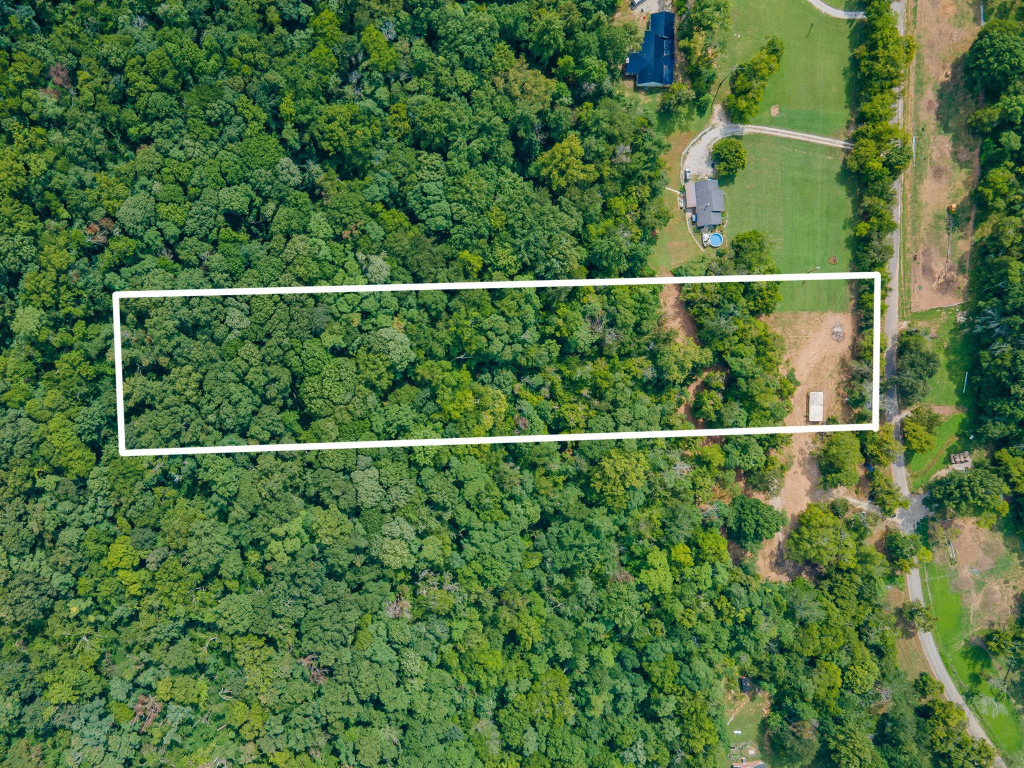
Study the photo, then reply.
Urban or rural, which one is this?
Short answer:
rural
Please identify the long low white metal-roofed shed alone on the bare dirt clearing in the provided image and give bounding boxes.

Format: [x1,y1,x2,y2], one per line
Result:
[807,392,823,422]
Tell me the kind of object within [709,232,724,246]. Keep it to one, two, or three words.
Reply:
swimming pool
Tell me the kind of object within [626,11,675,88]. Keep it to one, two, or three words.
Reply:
house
